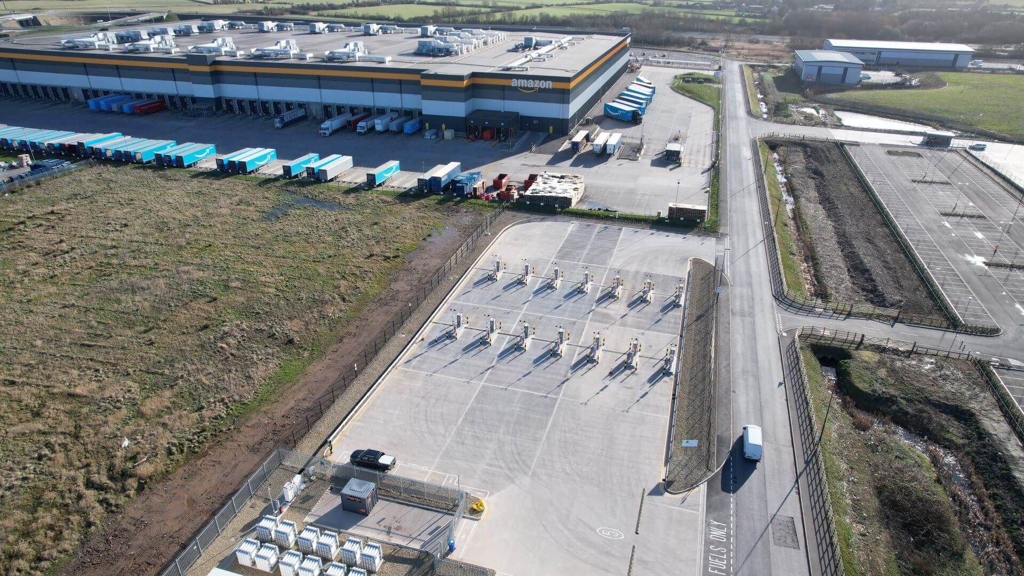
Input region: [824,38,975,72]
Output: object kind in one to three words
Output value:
shed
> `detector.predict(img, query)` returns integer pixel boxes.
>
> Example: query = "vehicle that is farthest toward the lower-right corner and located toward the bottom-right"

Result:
[743,425,763,459]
